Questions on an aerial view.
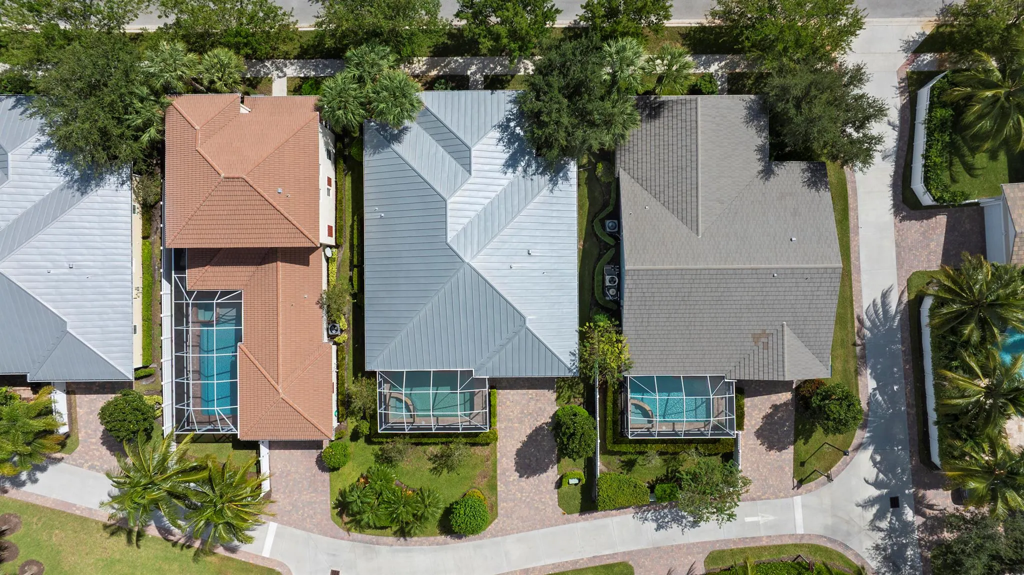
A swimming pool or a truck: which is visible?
swimming pool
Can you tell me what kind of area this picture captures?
residential area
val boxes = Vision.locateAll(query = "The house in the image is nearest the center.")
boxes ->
[363,89,580,377]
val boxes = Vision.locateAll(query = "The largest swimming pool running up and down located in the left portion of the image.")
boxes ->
[197,304,241,419]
